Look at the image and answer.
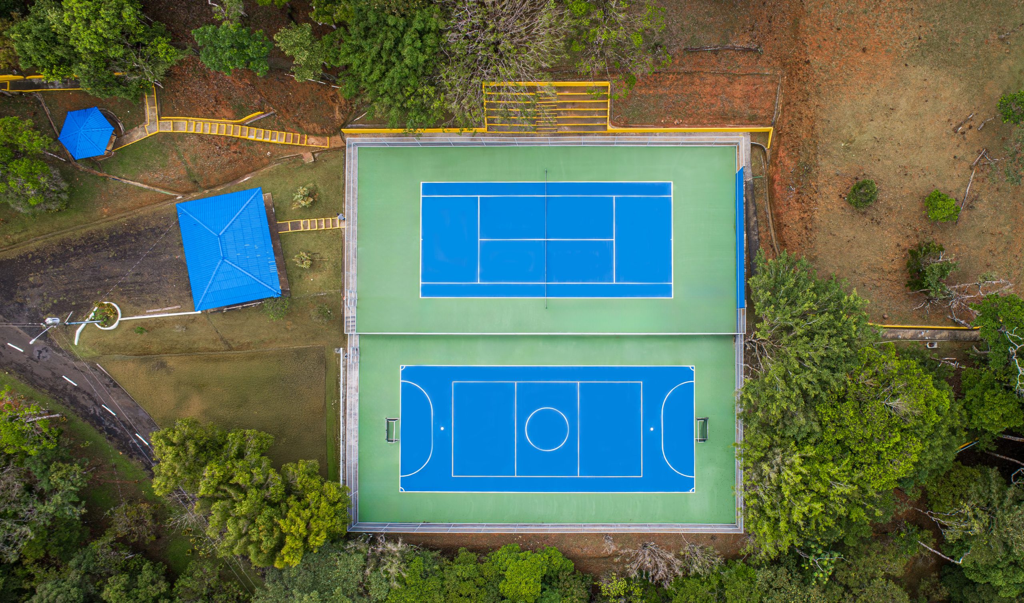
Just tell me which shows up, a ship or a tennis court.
tennis court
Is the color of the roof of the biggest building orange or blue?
blue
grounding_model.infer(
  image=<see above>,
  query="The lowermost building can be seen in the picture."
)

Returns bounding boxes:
[175,187,291,313]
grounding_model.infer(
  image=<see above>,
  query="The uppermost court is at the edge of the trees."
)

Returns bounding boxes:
[357,146,737,333]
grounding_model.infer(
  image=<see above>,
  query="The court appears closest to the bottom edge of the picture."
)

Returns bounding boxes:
[358,335,735,523]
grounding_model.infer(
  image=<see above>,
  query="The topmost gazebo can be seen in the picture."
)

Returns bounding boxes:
[57,106,128,162]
